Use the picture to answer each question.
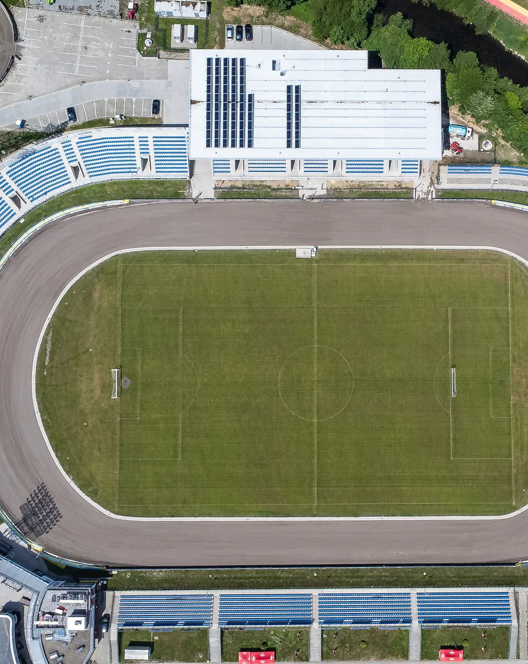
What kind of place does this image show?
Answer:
sports ground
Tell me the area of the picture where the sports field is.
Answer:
center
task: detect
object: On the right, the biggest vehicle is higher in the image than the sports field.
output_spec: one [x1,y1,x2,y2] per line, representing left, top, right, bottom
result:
[447,123,477,138]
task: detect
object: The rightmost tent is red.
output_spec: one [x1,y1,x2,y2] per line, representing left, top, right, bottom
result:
[438,647,463,661]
